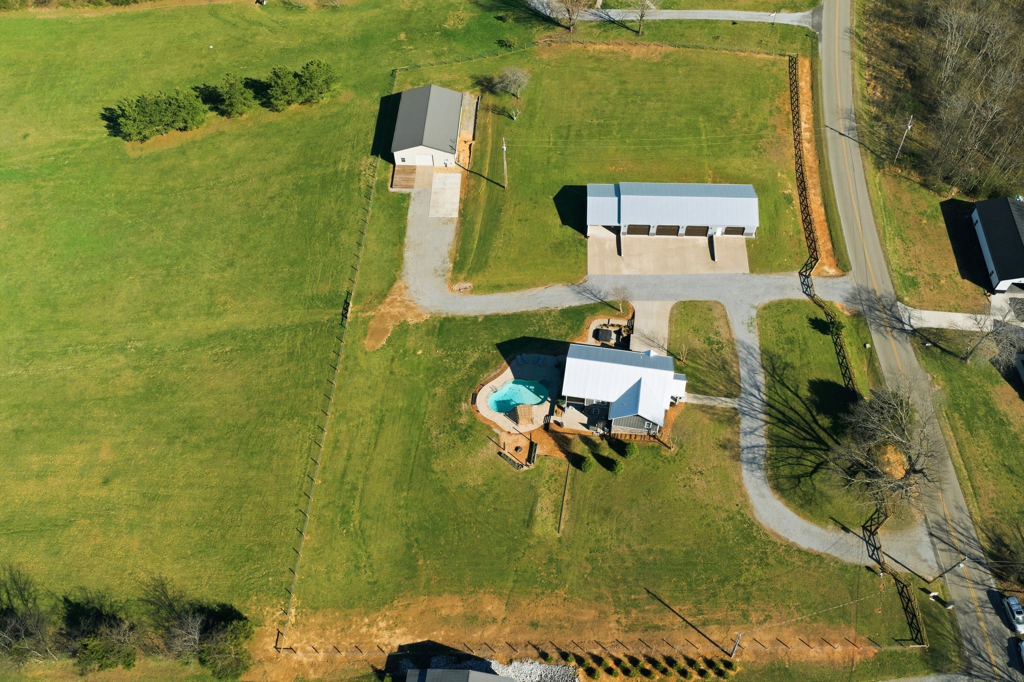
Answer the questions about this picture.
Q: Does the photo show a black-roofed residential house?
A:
Yes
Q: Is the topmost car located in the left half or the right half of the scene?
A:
right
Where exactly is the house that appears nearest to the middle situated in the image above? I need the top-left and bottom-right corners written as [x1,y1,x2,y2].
[562,345,686,441]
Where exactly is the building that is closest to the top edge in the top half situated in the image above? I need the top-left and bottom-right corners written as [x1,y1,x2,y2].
[391,84,463,168]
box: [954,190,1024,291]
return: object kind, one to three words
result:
house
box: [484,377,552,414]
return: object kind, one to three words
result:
swimming pool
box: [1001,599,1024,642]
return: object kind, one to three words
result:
car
